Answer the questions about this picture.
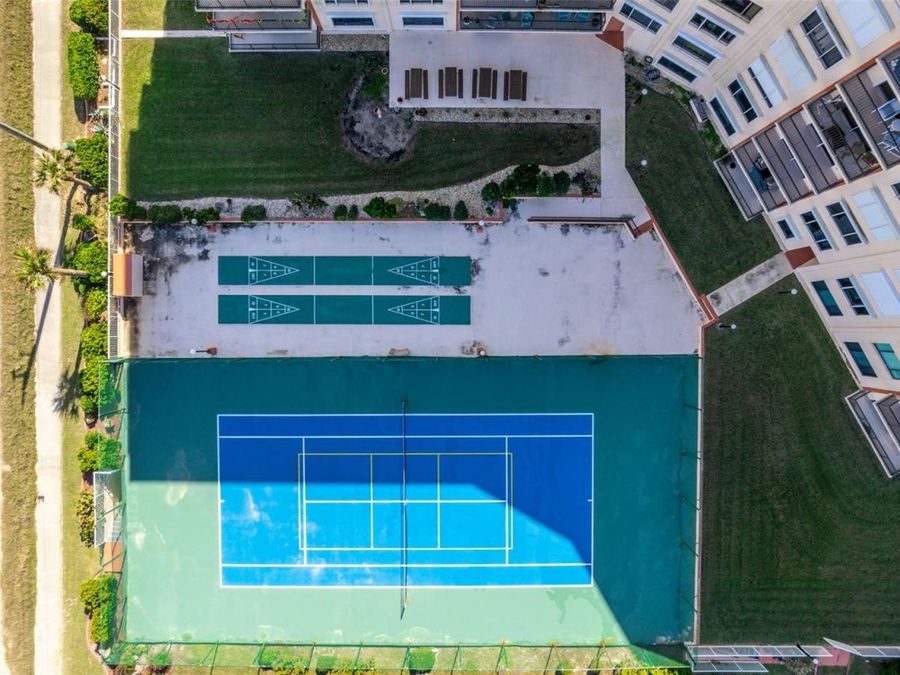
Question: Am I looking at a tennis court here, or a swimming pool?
tennis court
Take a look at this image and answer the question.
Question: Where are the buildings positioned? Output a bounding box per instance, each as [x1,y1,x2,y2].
[190,0,900,487]
[105,251,143,297]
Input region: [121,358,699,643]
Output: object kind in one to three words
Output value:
tennis court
